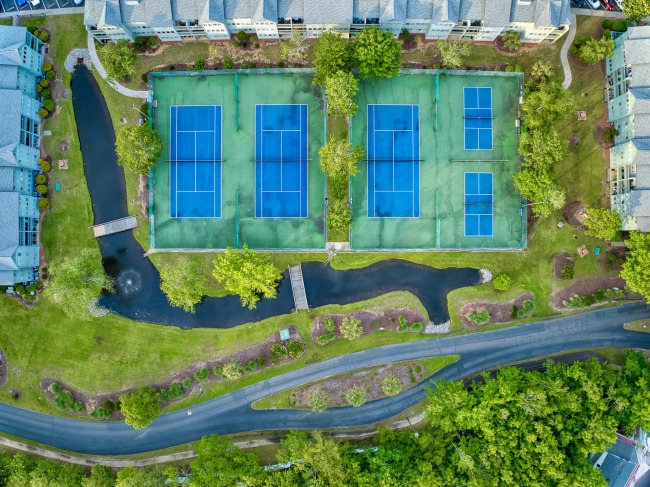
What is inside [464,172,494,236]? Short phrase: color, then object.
blue sports court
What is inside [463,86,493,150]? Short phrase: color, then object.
blue sports court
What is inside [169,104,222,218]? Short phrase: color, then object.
blue tennis court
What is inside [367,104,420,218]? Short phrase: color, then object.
blue tennis court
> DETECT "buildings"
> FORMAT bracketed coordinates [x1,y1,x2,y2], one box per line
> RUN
[582,436,649,487]
[80,0,577,40]
[609,22,650,234]
[0,21,41,288]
